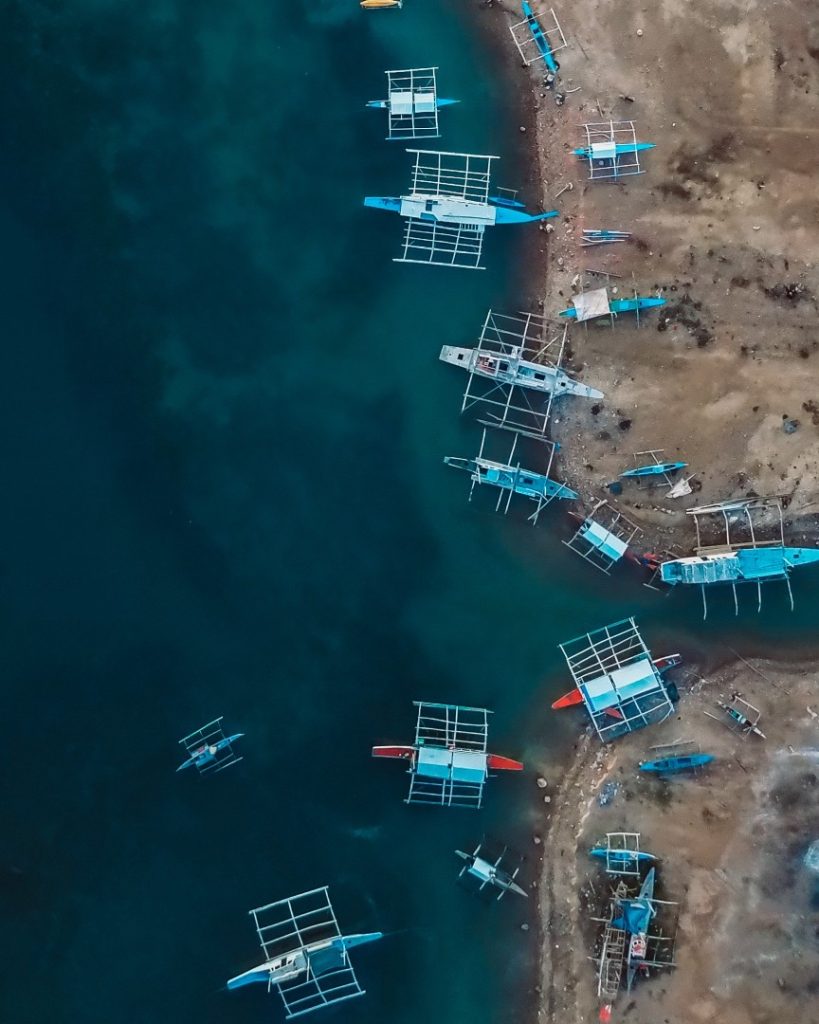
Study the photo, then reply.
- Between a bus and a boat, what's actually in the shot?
boat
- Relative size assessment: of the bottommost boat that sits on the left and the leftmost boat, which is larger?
the bottommost boat that sits on the left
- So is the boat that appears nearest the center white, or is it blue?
blue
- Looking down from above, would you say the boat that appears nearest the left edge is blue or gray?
blue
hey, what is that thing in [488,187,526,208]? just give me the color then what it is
blue boat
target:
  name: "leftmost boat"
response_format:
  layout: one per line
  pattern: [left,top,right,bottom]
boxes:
[175,716,245,774]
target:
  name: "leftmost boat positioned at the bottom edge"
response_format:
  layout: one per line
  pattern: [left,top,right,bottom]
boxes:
[226,886,419,1019]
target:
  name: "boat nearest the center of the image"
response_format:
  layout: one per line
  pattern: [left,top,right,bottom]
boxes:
[444,428,579,525]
